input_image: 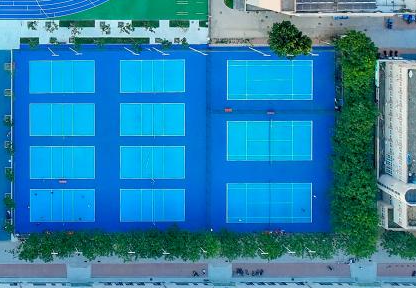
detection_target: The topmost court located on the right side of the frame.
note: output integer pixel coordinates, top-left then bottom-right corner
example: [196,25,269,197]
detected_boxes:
[227,60,313,100]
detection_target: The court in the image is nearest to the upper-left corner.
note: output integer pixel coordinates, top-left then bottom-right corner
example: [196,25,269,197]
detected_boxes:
[29,60,95,93]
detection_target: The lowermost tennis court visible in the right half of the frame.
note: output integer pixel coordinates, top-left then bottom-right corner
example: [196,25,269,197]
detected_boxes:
[227,183,313,223]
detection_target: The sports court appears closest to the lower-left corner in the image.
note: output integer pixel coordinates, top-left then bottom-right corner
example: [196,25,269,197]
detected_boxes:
[29,189,95,222]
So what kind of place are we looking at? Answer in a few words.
sports ground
